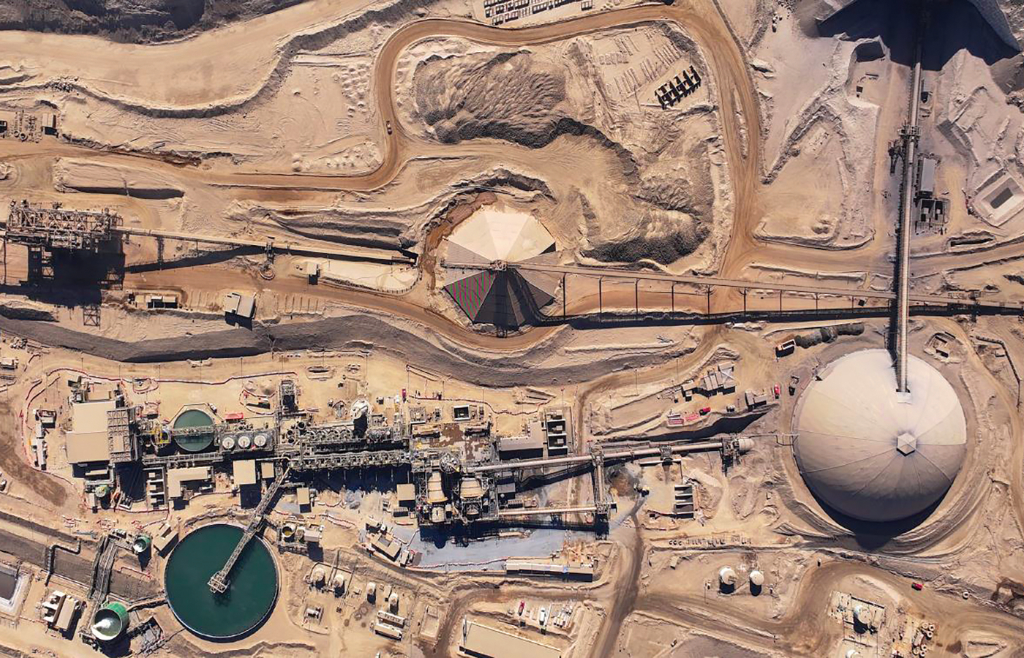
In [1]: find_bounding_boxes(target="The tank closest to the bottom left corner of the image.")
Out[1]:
[94,604,132,640]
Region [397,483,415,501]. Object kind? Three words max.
building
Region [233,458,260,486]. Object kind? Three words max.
building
